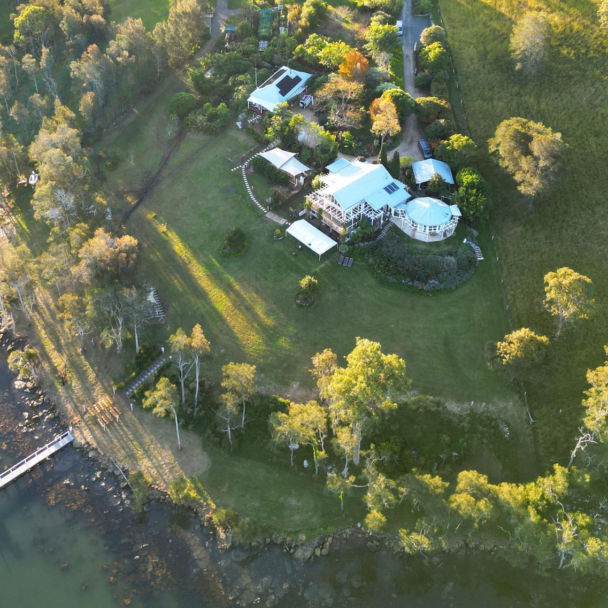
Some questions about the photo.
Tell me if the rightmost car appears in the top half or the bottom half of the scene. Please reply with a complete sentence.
The rightmost car is in the top half of the image.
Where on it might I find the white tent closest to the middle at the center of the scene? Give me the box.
[284,221,338,264]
